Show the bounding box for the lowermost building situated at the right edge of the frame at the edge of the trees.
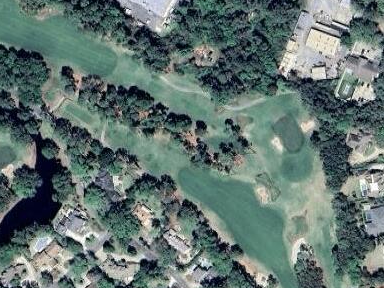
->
[361,204,384,236]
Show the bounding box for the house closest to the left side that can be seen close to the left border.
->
[0,262,26,288]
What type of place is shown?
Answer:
golf course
